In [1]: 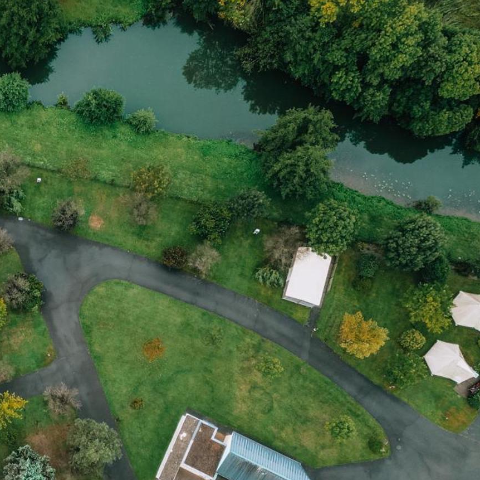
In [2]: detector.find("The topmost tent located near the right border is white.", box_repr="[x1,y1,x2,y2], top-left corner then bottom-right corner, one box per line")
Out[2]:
[448,291,480,331]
